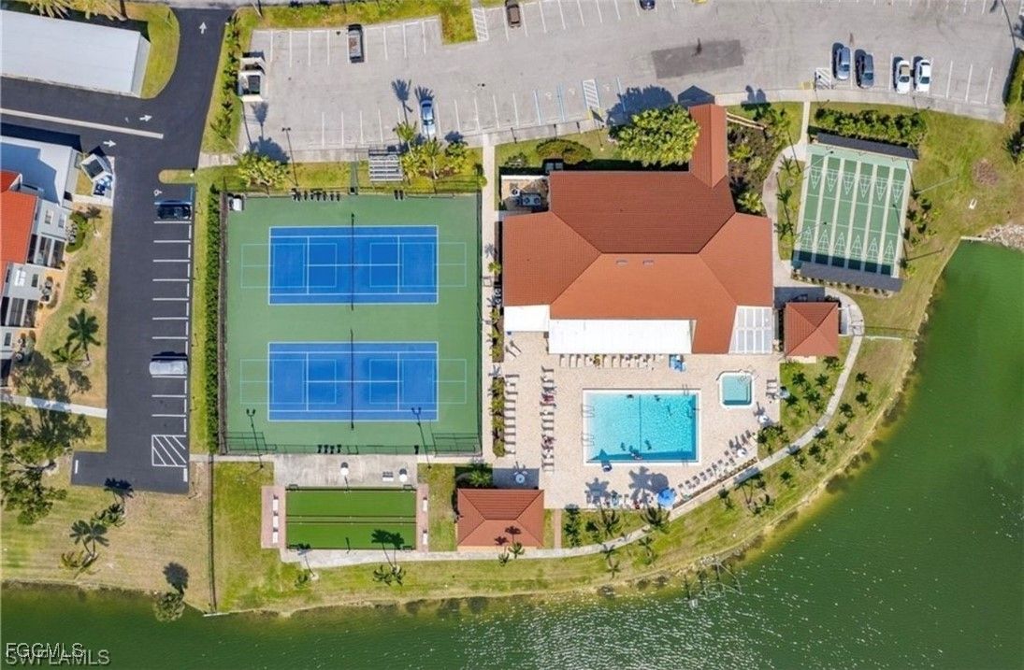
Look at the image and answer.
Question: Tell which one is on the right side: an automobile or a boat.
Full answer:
Looking on the right side, you will find an automobile.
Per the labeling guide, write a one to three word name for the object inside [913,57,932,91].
car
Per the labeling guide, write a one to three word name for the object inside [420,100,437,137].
car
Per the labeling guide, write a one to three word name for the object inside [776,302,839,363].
building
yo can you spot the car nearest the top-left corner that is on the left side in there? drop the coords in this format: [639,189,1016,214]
[156,203,190,218]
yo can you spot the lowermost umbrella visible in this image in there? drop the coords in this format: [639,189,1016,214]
[656,486,676,506]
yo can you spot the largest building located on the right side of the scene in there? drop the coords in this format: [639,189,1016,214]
[502,104,774,355]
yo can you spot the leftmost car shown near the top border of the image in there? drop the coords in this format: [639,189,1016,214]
[347,26,364,60]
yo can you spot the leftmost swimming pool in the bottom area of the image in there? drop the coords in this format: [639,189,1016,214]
[581,386,704,469]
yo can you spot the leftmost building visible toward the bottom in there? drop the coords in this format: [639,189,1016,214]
[457,488,545,552]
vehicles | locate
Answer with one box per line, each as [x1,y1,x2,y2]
[893,58,912,92]
[156,203,190,218]
[642,0,656,12]
[420,100,437,137]
[913,57,932,91]
[855,52,875,87]
[506,0,521,28]
[834,44,853,79]
[146,357,190,375]
[347,26,364,60]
